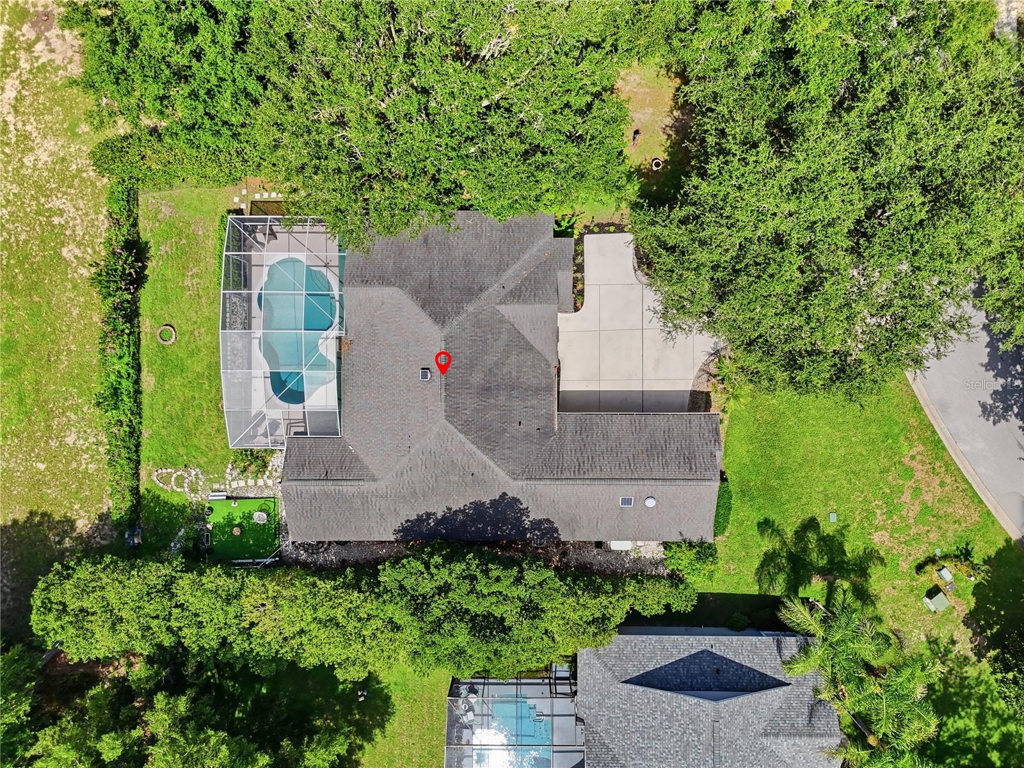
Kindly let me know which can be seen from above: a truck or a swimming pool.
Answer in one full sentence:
Of the two, only a swimming pool appears.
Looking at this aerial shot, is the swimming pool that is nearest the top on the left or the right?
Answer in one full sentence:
The swimming pool that is nearest the top appears in the left half of the scene.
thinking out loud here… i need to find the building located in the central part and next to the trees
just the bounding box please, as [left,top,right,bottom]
[282,211,724,541]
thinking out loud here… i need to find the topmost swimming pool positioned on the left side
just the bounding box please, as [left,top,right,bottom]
[252,252,341,409]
